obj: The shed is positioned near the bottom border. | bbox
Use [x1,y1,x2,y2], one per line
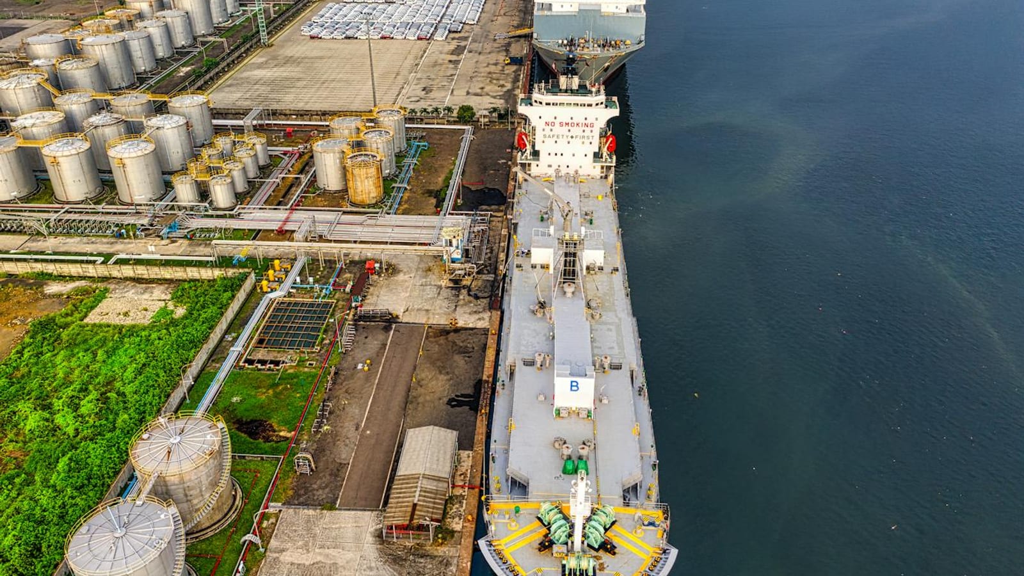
[382,425,459,551]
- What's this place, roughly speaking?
industrial area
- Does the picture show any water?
Yes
